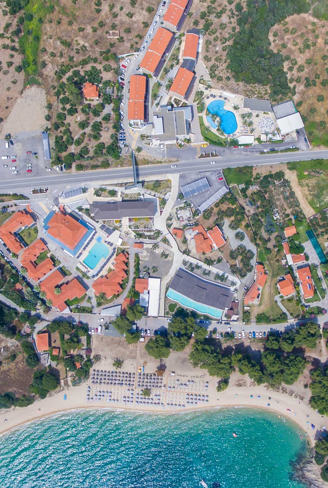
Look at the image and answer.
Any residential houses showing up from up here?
Yes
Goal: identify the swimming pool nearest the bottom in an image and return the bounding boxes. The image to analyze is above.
[168,288,222,317]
